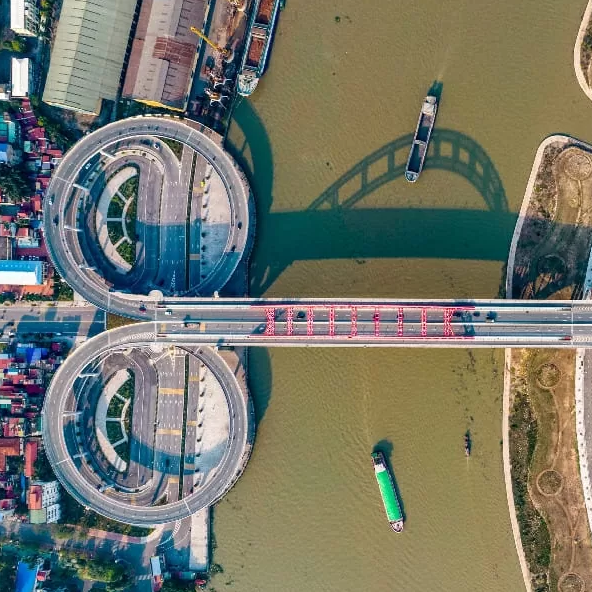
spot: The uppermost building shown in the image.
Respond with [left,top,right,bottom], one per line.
[11,0,37,35]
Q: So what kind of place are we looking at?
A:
port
